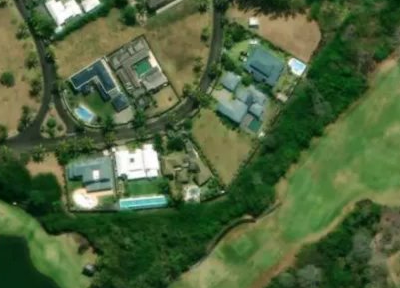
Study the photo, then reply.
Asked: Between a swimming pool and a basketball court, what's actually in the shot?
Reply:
swimming pool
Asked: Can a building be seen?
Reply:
Yes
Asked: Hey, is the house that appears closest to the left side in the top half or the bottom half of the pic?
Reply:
top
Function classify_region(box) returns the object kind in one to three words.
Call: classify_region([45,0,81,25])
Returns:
house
